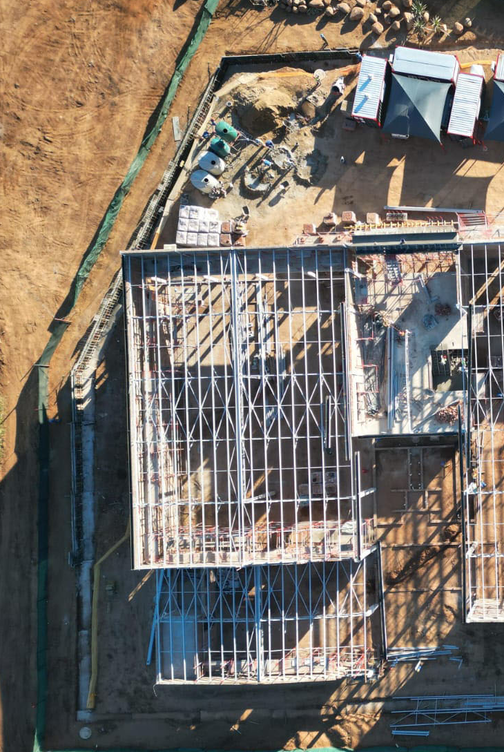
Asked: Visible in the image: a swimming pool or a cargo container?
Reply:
cargo container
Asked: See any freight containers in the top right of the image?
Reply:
Yes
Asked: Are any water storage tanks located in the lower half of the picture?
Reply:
No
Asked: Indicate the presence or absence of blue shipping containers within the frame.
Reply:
No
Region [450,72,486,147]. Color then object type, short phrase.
white shipping container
